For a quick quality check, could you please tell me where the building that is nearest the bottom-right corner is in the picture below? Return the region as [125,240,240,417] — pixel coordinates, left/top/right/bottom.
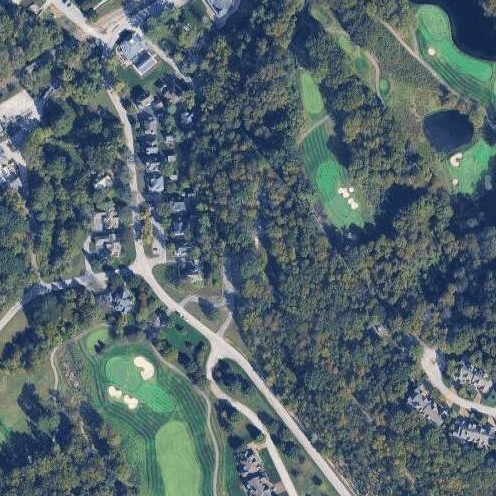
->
[453,420,493,447]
